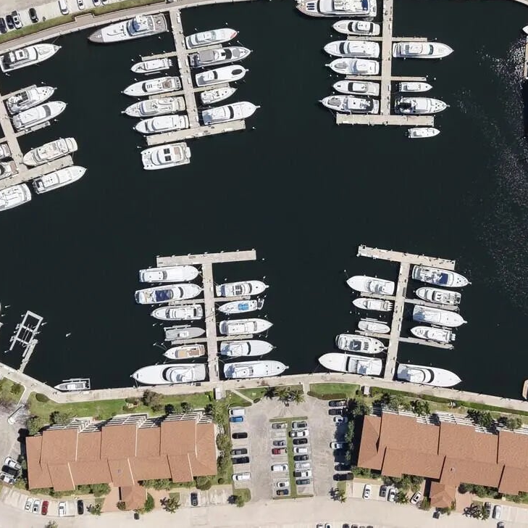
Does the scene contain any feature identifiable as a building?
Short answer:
Yes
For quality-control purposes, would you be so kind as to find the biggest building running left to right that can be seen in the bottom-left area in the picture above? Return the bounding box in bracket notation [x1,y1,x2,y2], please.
[25,409,223,500]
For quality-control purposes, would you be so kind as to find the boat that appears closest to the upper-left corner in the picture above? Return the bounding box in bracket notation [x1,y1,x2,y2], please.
[0,44,61,73]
